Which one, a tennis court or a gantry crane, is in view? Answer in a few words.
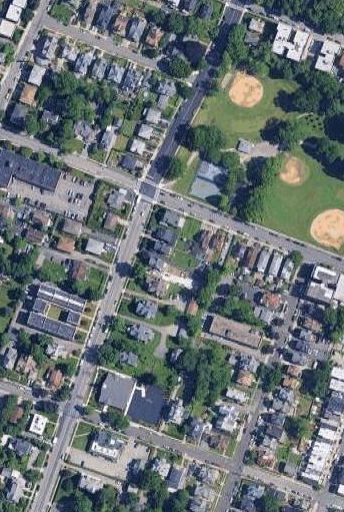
tennis court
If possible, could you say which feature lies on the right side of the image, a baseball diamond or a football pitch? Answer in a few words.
baseball diamond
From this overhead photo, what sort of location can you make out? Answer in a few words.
residential area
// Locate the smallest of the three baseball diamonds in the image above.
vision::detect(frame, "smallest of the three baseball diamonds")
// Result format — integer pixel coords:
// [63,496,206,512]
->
[273,149,323,190]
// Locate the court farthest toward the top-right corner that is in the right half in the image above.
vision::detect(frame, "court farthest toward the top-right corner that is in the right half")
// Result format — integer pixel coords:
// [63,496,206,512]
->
[196,159,231,184]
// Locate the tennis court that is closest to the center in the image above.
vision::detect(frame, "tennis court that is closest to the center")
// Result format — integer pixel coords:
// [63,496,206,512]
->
[189,175,224,201]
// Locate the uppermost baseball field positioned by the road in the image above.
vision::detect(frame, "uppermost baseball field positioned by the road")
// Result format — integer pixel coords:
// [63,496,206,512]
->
[208,65,293,150]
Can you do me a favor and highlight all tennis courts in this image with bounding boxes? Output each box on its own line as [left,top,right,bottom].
[196,159,231,184]
[189,175,224,201]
